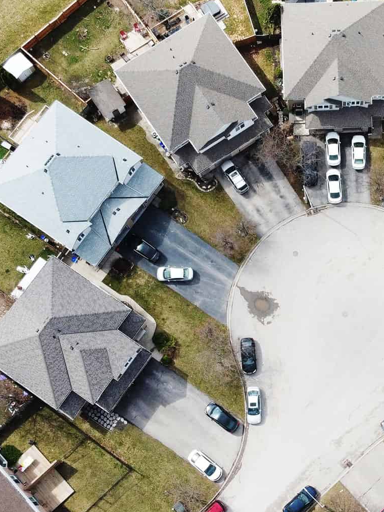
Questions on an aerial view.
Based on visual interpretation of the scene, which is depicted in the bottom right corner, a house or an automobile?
automobile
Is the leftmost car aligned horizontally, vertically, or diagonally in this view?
diagonally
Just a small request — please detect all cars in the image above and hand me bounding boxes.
[282,486,317,512]
[245,387,263,424]
[350,136,367,170]
[204,500,226,512]
[205,402,241,435]
[126,232,162,265]
[325,170,343,203]
[220,161,249,195]
[158,265,194,282]
[187,448,223,485]
[239,338,258,374]
[324,133,341,166]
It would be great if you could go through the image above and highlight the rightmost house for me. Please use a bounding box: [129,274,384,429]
[281,0,384,135]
